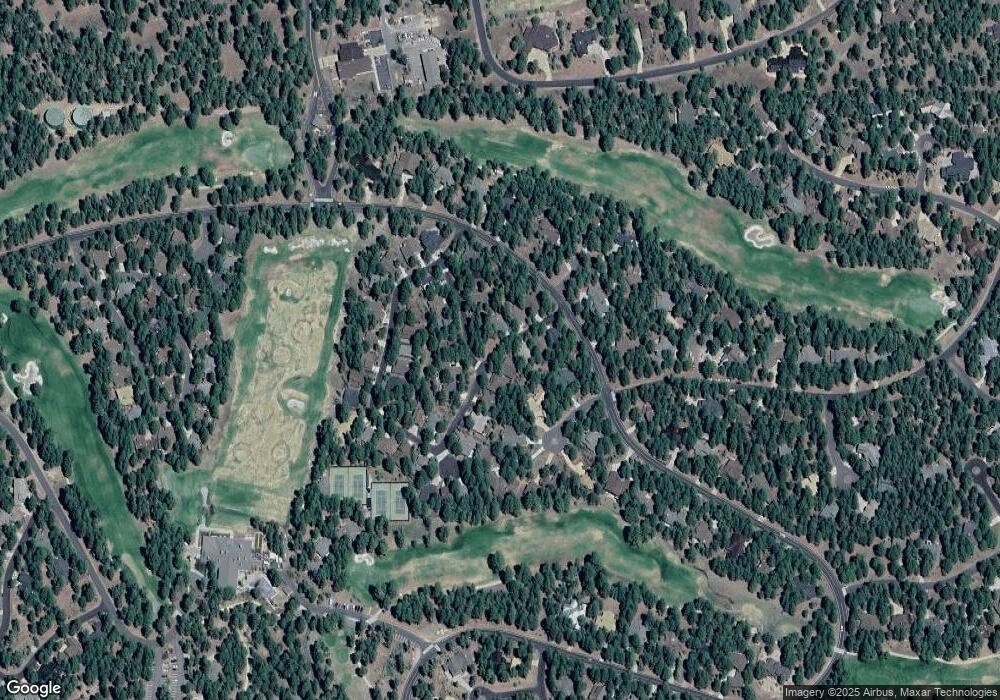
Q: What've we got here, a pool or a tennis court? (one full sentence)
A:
It is a tennis court that can be seen here.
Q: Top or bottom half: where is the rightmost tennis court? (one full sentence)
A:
The rightmost tennis court sits in the bottom half of the picture.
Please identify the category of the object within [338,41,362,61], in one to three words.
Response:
building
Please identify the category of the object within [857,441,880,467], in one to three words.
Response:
house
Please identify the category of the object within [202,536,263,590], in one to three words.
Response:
building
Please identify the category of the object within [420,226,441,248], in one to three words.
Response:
house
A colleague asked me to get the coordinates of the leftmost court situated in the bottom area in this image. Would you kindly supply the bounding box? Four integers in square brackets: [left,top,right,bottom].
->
[330,466,366,504]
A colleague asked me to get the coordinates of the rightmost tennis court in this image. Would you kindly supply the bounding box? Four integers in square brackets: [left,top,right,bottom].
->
[372,481,408,520]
